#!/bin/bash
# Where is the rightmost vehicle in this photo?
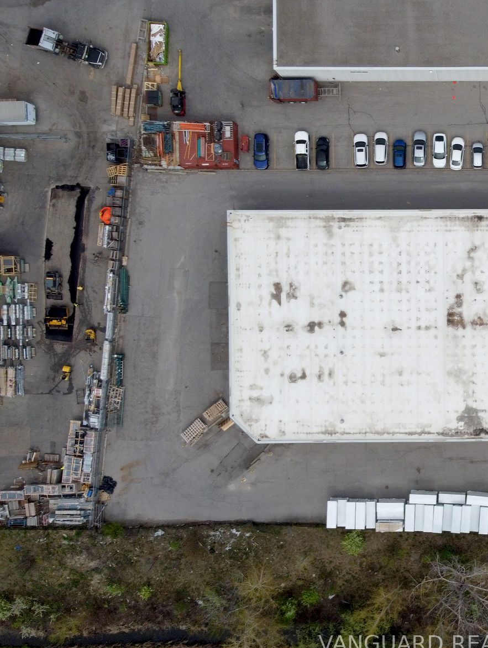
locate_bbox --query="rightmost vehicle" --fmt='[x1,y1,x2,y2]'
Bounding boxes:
[470,143,485,169]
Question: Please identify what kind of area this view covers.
parking lot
